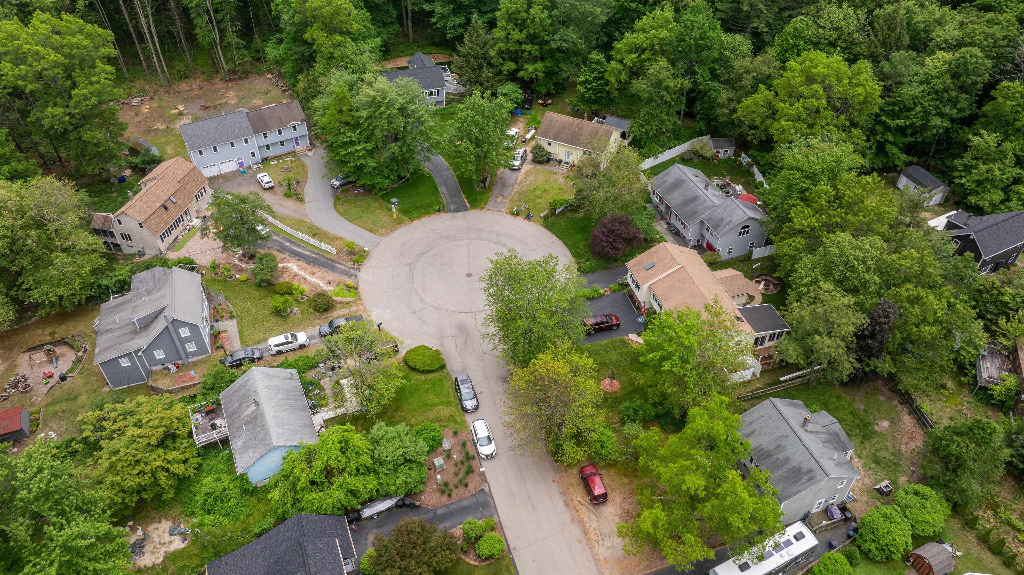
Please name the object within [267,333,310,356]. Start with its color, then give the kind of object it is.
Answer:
white car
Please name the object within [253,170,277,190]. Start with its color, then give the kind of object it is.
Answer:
white car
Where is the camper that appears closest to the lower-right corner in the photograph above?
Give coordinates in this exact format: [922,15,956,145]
[712,522,819,575]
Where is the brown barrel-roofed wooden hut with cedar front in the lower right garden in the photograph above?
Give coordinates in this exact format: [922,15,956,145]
[904,534,953,575]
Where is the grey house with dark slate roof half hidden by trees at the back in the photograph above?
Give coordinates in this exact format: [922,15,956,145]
[380,52,458,111]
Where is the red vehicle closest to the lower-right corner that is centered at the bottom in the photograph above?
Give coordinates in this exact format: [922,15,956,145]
[580,463,609,506]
